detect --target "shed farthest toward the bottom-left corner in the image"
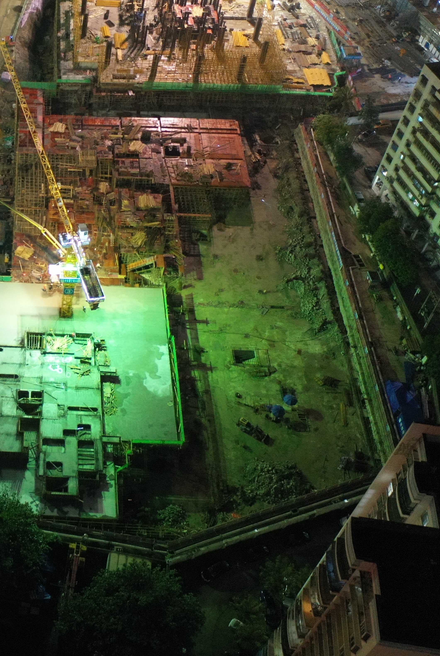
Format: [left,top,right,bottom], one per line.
[106,552,151,582]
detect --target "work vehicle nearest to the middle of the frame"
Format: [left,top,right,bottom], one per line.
[239,412,282,453]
